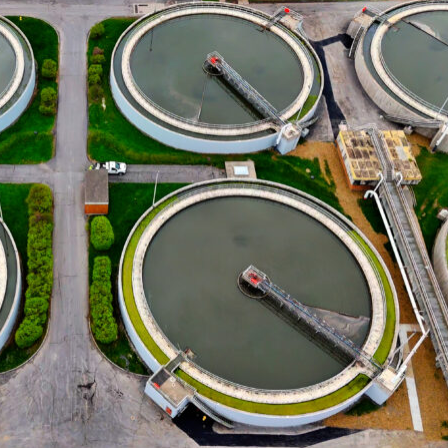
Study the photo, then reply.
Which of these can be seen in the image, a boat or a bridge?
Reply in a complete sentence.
This aerial view contains a bridge.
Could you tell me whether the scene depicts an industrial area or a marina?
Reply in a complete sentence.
It's an industrial area.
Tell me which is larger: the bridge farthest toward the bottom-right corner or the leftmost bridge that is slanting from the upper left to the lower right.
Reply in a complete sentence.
Compared with the leftmost bridge that is slanting from the upper left to the lower right, the bridge farthest toward the bottom-right corner is the bigger one.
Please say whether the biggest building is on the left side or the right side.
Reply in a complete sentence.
You can find the biggest building on the right side of the picture.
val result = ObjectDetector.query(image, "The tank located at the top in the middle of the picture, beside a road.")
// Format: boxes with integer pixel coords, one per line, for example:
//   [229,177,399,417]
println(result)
[109,3,324,157]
